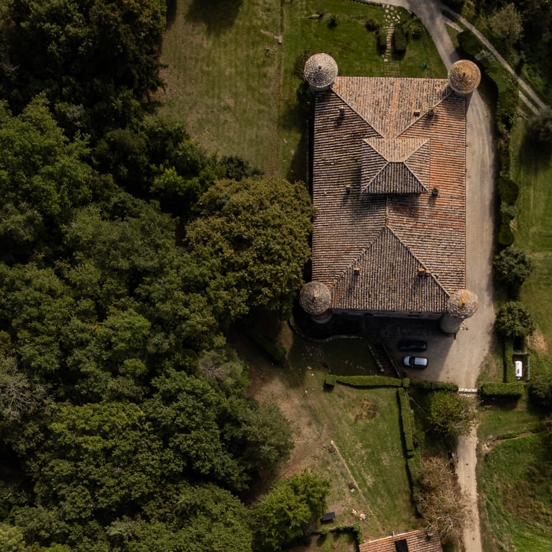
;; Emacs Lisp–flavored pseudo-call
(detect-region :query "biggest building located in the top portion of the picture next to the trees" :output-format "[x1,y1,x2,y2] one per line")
[299,52,482,330]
